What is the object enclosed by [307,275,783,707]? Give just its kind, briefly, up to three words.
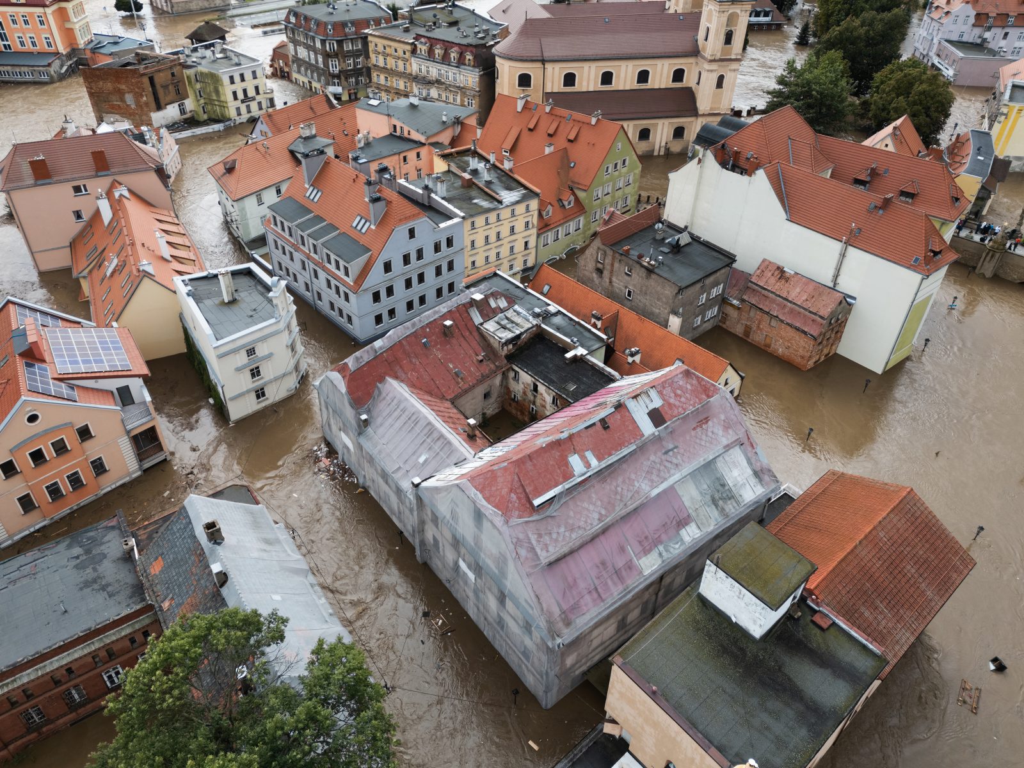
building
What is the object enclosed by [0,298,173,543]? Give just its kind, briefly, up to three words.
house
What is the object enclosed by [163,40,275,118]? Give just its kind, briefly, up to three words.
house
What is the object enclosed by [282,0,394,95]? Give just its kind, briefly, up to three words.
building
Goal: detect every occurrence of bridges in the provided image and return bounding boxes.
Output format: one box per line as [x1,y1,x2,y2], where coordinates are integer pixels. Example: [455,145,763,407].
[950,215,1024,290]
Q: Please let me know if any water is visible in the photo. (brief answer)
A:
Yes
